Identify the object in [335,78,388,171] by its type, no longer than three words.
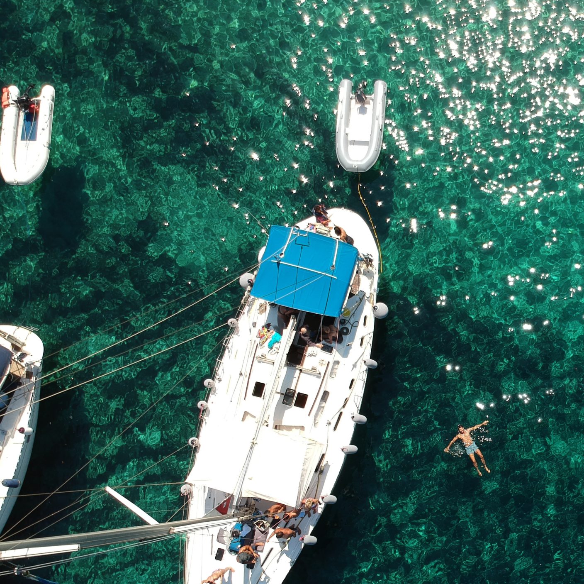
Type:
boat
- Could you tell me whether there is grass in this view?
No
